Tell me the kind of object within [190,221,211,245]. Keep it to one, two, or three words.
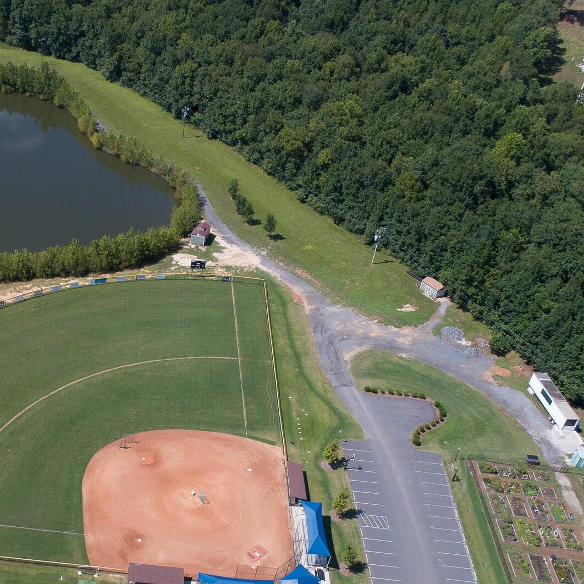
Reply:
shed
